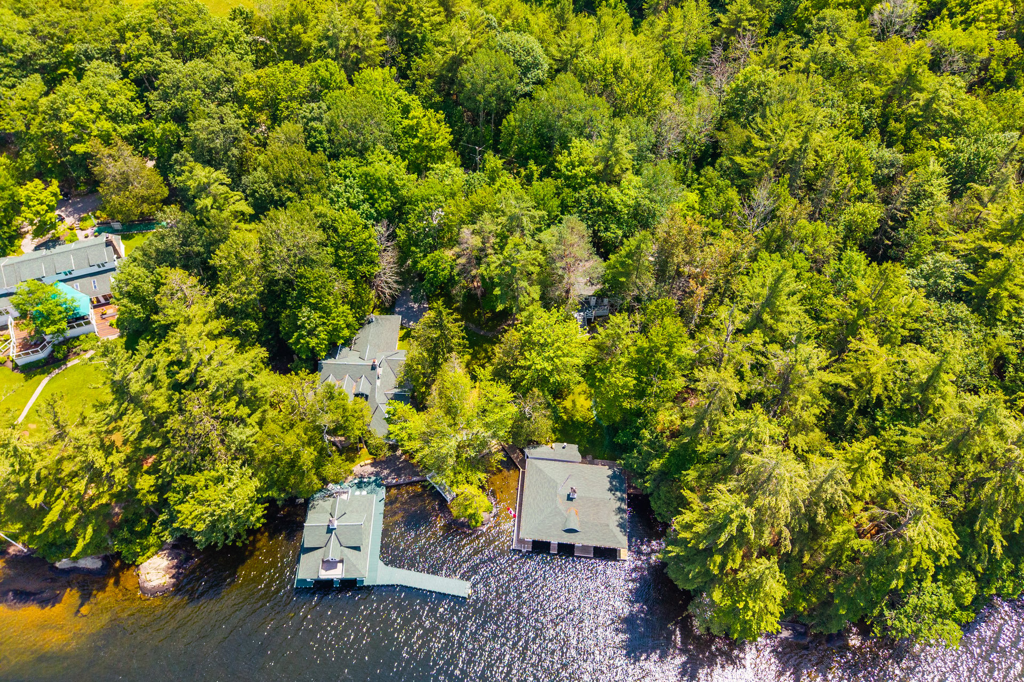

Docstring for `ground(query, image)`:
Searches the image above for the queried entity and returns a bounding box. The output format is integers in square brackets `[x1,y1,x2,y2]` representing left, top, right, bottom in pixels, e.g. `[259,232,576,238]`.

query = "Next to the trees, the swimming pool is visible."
[89,220,168,235]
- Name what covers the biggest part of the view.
trees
